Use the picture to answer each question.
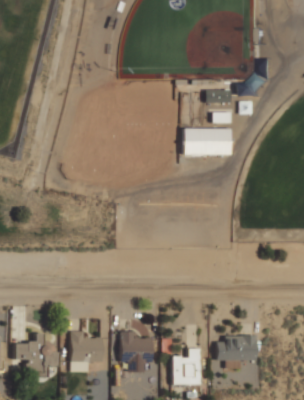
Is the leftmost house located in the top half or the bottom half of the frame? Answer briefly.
bottom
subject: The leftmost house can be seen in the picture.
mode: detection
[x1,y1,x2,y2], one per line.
[16,332,59,378]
